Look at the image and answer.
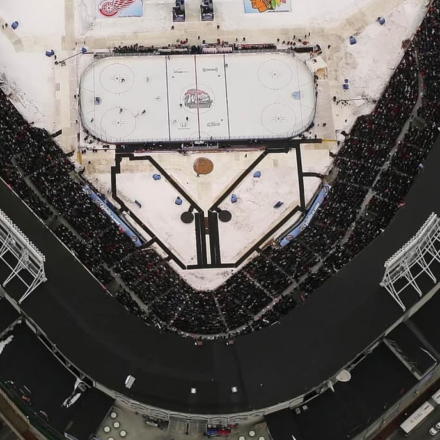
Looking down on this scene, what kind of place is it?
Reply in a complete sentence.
This image shows a sports ground.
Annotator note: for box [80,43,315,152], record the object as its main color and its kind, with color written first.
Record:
white sports court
